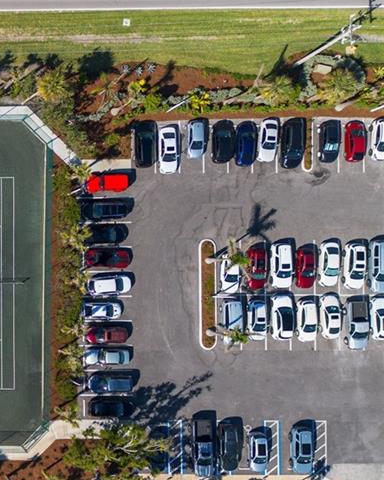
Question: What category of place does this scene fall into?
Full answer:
The picture captures a parking lot.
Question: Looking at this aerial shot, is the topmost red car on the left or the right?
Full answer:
The topmost red car appears in the right half of the scene.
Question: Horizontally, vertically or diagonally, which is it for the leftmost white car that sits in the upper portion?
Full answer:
The leftmost white car that sits in the upper portion has been laid out vertically relative to the frame.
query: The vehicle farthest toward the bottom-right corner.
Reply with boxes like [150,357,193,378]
[288,425,314,470]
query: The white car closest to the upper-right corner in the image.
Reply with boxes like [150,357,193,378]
[364,120,384,161]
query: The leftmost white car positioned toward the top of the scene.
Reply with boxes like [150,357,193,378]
[156,127,179,173]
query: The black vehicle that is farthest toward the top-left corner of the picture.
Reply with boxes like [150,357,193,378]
[133,121,158,167]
